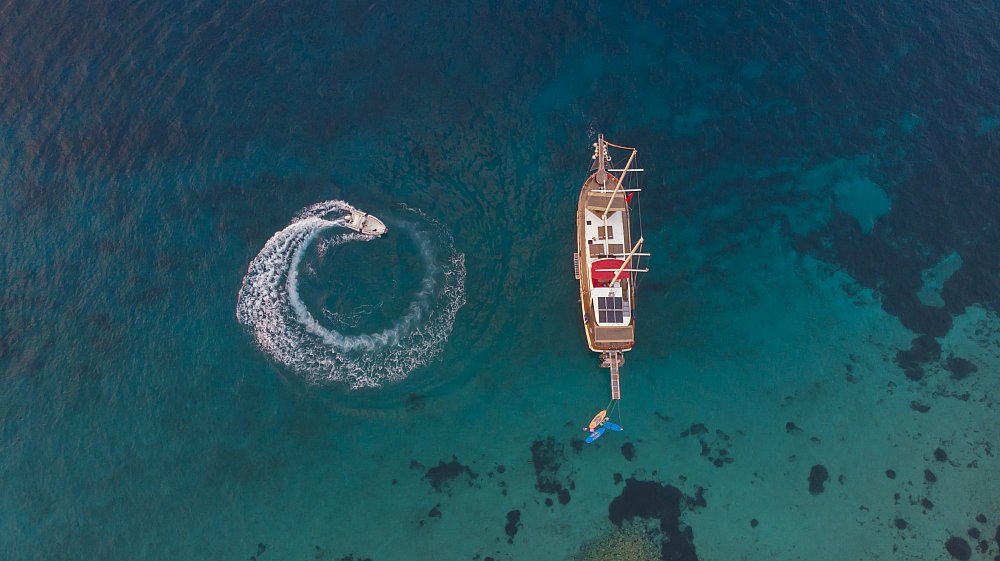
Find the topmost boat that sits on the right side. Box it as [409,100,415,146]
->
[573,129,650,400]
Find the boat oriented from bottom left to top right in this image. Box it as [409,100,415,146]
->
[590,410,606,429]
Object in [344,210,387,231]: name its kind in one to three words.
boat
